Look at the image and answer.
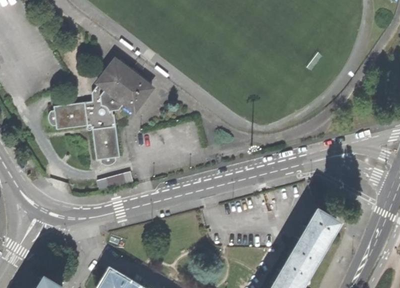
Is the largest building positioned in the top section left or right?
left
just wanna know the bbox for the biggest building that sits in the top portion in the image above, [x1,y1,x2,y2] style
[48,58,155,166]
